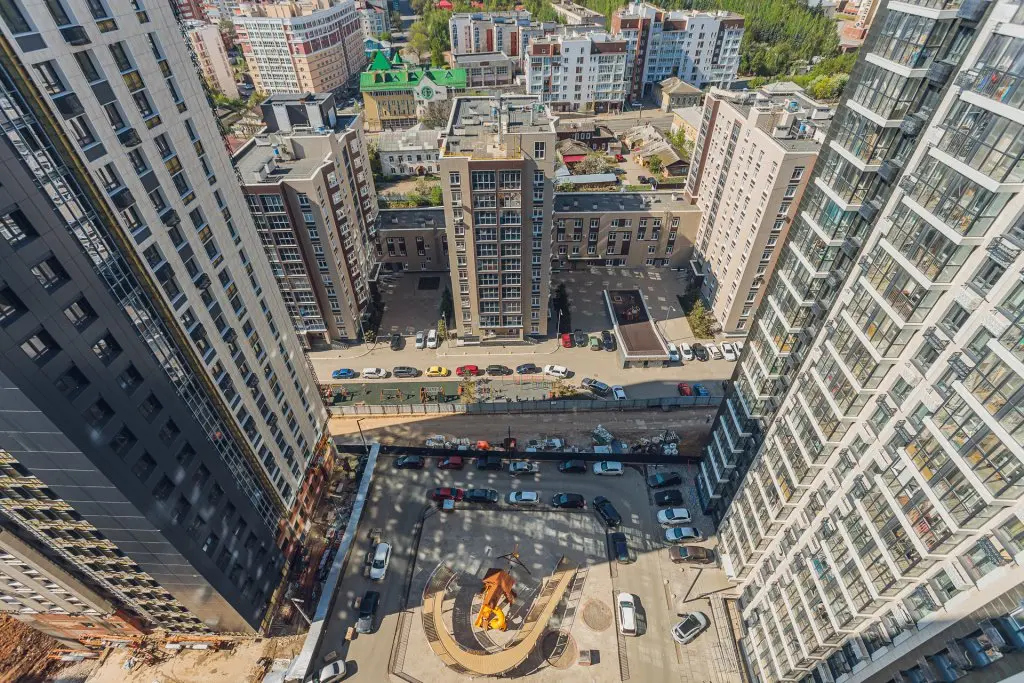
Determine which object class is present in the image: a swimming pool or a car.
car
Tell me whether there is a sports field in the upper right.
No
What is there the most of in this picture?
buildings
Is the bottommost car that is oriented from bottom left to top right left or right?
left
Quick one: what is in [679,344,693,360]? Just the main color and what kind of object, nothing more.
white car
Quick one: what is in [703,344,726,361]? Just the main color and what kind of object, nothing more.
white car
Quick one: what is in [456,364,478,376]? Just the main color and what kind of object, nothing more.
red vehicle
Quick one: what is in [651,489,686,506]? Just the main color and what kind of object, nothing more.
black car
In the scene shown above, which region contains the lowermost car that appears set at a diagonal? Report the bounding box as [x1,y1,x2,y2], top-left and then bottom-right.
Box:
[314,650,353,683]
